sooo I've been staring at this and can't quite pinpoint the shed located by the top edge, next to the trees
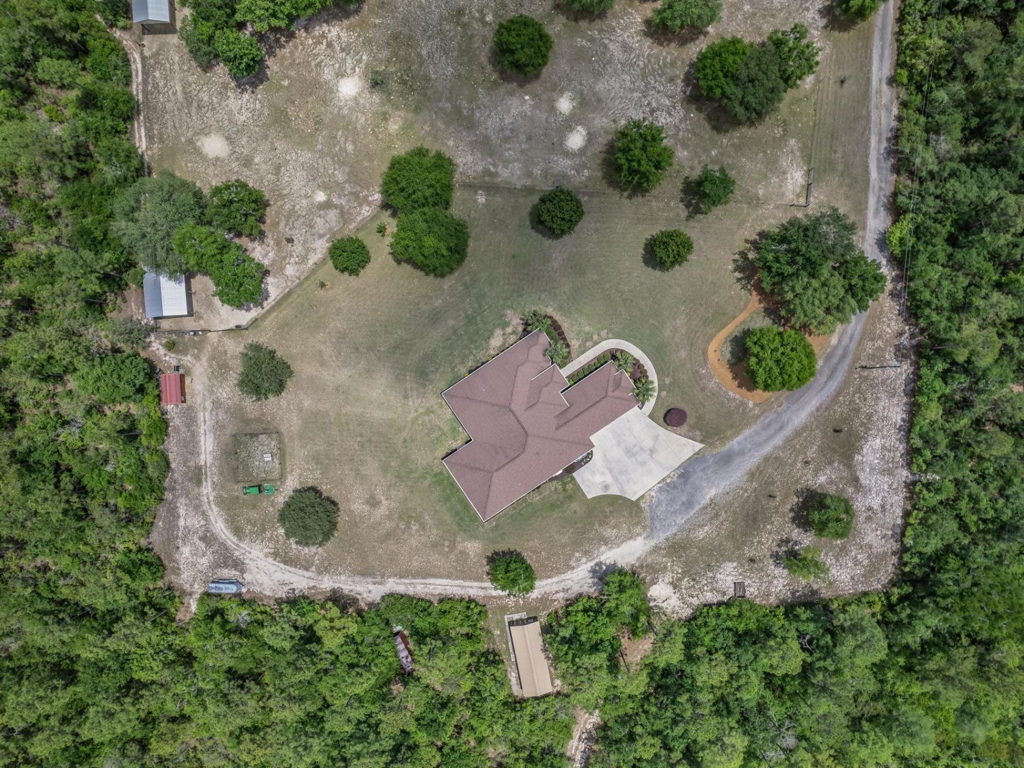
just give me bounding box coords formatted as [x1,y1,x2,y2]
[132,0,179,33]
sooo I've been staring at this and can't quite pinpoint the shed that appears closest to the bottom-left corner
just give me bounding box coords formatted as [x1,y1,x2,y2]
[163,374,189,404]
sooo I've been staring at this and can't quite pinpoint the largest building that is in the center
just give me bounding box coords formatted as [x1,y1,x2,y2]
[440,327,642,523]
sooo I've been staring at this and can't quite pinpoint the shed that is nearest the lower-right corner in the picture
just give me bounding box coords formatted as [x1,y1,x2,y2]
[510,610,552,696]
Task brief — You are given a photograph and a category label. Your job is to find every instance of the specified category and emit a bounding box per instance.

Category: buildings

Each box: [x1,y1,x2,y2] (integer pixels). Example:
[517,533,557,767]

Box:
[440,327,642,523]
[132,0,179,33]
[142,263,194,318]
[163,374,189,404]
[510,610,552,696]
